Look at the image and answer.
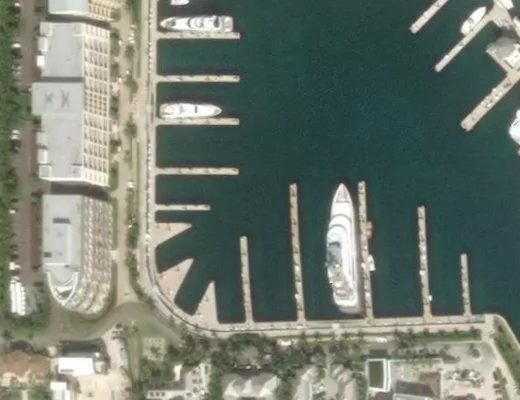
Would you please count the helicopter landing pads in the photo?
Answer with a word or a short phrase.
0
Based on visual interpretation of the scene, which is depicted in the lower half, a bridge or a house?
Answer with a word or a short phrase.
house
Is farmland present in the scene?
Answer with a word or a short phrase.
No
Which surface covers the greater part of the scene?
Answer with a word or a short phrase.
water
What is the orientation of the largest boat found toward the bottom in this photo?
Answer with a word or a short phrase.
vertically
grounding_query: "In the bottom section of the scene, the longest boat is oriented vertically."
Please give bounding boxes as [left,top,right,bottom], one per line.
[330,183,360,312]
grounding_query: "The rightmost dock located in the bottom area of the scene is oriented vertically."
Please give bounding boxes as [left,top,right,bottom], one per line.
[461,253,474,315]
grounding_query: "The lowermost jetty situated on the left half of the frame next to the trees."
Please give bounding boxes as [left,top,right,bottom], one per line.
[190,281,219,323]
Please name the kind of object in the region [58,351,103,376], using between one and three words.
house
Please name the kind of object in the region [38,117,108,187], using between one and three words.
building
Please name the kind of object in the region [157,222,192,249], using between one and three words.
pier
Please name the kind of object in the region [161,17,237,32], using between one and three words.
boat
